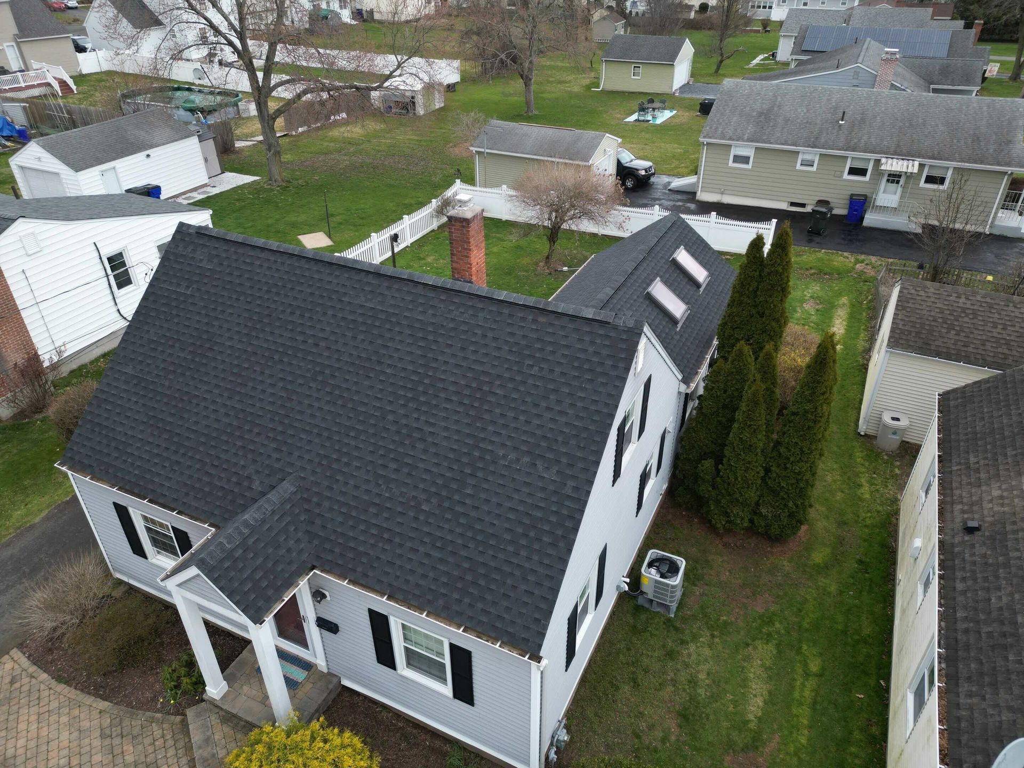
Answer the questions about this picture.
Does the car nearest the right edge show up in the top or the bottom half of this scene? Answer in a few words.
top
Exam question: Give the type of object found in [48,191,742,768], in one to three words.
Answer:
house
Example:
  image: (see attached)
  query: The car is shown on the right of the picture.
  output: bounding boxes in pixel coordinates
[604,142,660,188]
